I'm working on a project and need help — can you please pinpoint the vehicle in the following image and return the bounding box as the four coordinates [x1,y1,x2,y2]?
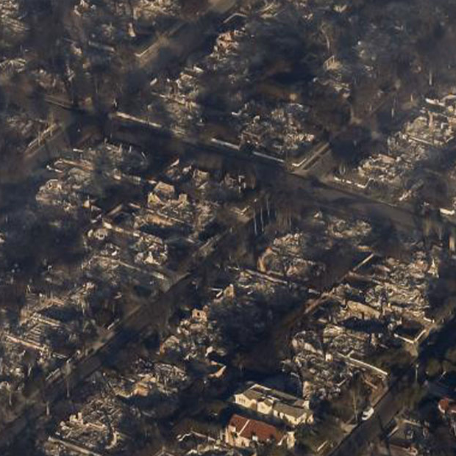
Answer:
[361,407,374,420]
